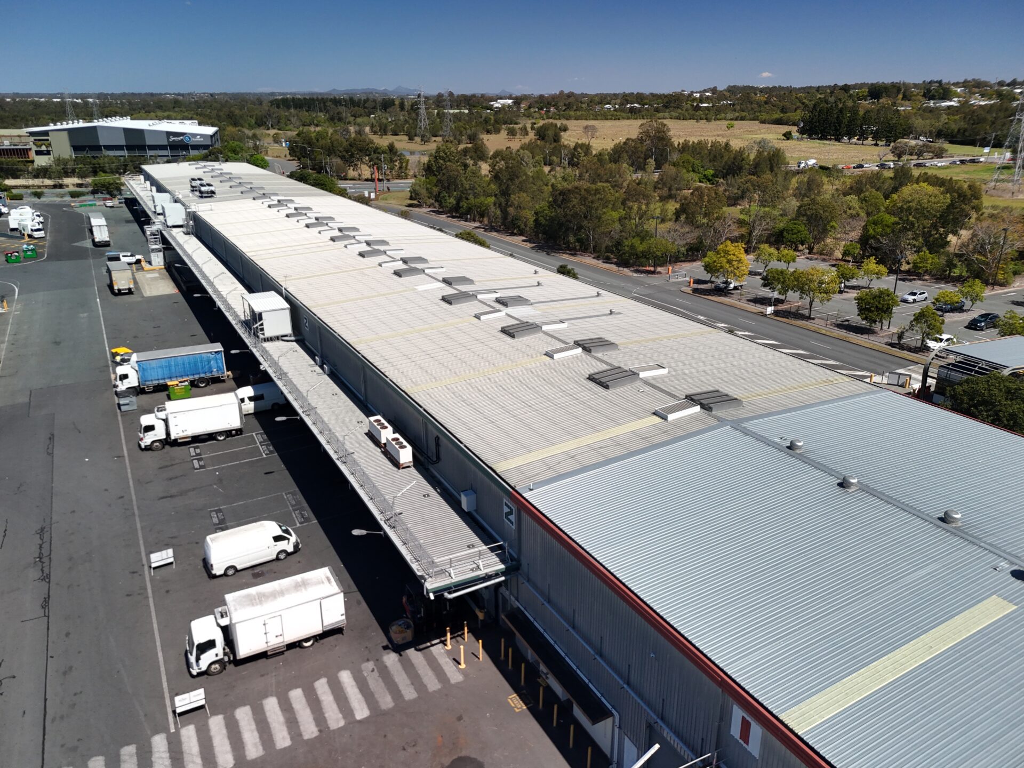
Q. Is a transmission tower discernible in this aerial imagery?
Yes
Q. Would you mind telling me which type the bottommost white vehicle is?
truck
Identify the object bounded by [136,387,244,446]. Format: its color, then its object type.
white truck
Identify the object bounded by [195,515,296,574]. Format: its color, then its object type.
white van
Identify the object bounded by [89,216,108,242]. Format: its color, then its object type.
white vehicle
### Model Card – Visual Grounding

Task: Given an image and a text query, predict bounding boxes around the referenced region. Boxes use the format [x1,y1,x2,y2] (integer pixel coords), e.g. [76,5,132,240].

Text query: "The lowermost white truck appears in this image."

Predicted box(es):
[181,560,345,676]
